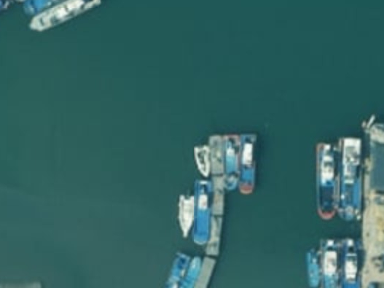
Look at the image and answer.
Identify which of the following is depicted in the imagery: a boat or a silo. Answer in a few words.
boat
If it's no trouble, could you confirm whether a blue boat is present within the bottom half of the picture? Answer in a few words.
Yes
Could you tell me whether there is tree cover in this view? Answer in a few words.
No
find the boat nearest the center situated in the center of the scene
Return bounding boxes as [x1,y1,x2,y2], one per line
[193,146,210,178]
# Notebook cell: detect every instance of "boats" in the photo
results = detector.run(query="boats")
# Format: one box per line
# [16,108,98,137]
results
[336,139,361,221]
[224,134,241,191]
[177,192,194,238]
[315,143,337,220]
[181,256,201,288]
[31,0,105,30]
[160,250,189,288]
[194,179,214,244]
[340,242,364,288]
[193,146,210,178]
[240,134,258,195]
[24,0,60,13]
[303,250,319,287]
[319,242,341,288]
